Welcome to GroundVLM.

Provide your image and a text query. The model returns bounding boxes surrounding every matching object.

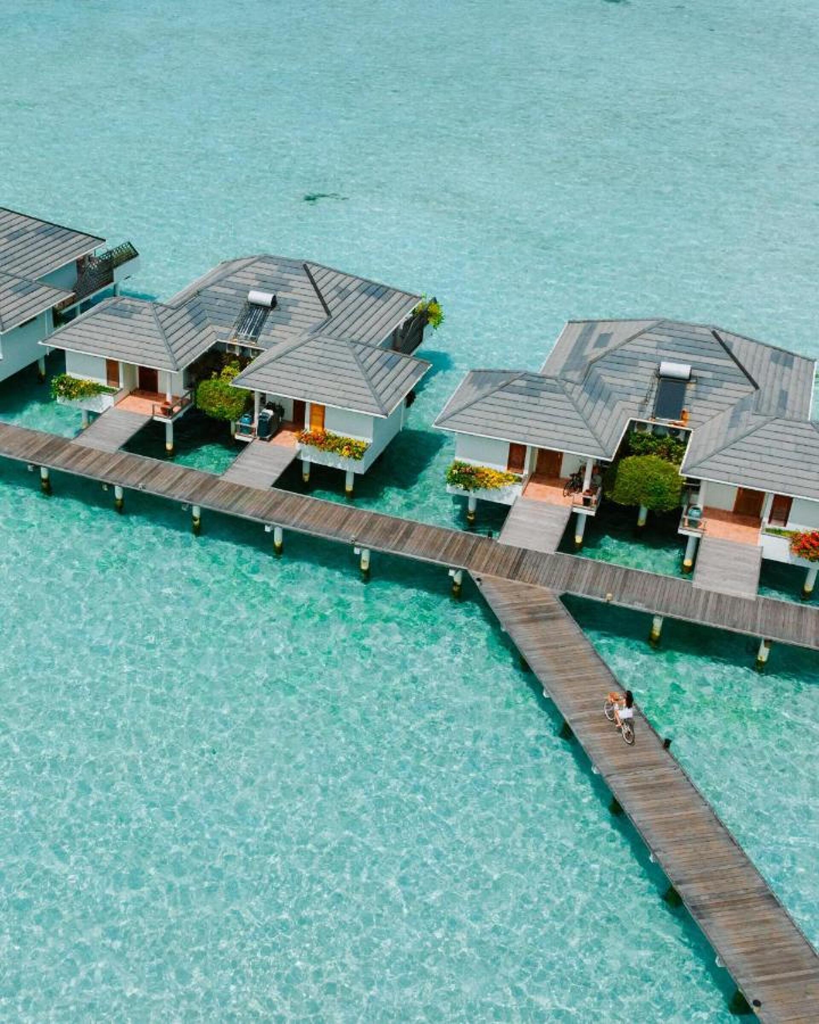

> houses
[430,317,819,603]
[38,253,443,505]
